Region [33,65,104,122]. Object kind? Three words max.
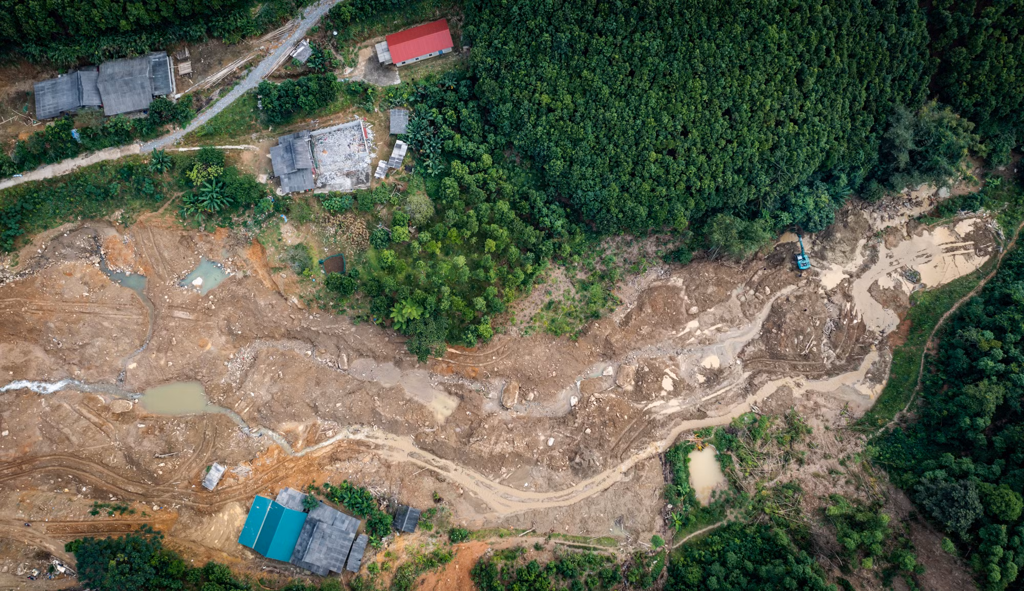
house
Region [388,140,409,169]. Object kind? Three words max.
shed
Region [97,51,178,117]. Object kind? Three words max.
house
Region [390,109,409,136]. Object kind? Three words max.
shed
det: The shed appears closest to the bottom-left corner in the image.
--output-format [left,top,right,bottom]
[202,462,228,491]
